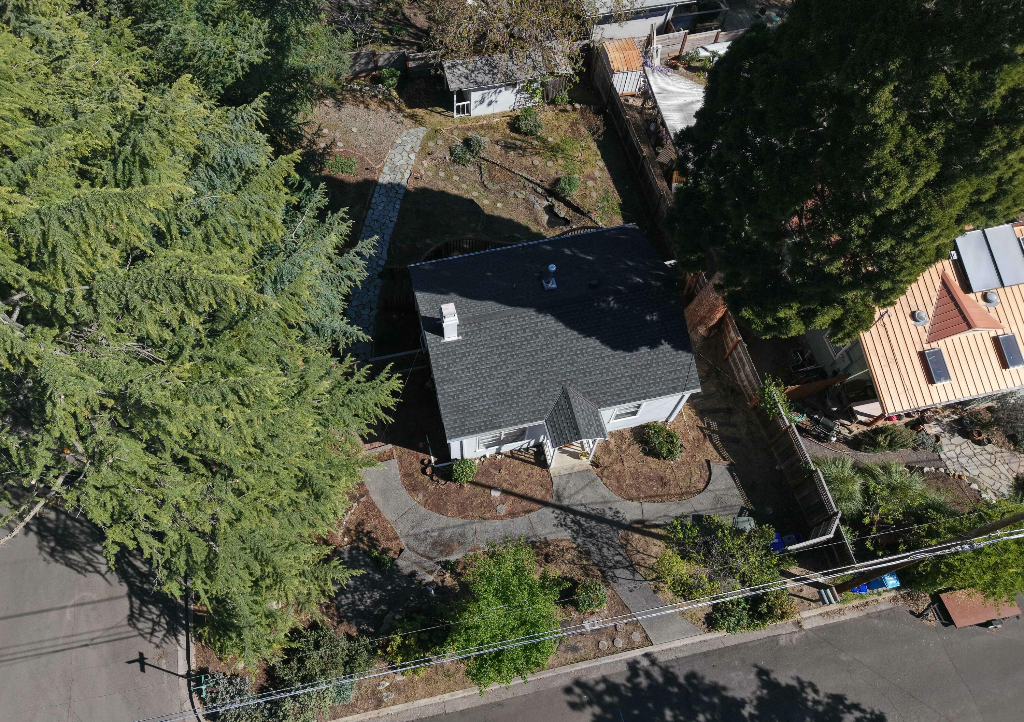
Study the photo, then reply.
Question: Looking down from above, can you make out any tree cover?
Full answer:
Yes, there's tree cover in this view.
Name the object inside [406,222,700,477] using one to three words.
house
